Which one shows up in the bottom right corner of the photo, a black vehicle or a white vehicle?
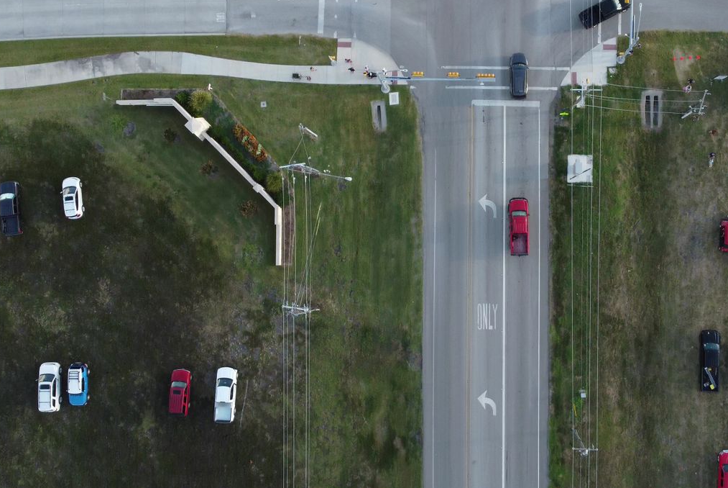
black vehicle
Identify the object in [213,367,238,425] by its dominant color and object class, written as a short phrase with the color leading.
white truck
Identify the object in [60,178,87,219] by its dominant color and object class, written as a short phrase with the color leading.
white car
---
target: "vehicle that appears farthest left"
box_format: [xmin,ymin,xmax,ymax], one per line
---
[0,181,26,237]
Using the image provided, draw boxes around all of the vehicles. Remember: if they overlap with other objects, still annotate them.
[60,178,87,219]
[36,362,63,413]
[508,198,530,257]
[213,367,238,425]
[167,368,193,417]
[717,449,728,488]
[65,361,91,407]
[698,329,724,392]
[0,181,26,237]
[717,219,728,254]
[508,53,530,98]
